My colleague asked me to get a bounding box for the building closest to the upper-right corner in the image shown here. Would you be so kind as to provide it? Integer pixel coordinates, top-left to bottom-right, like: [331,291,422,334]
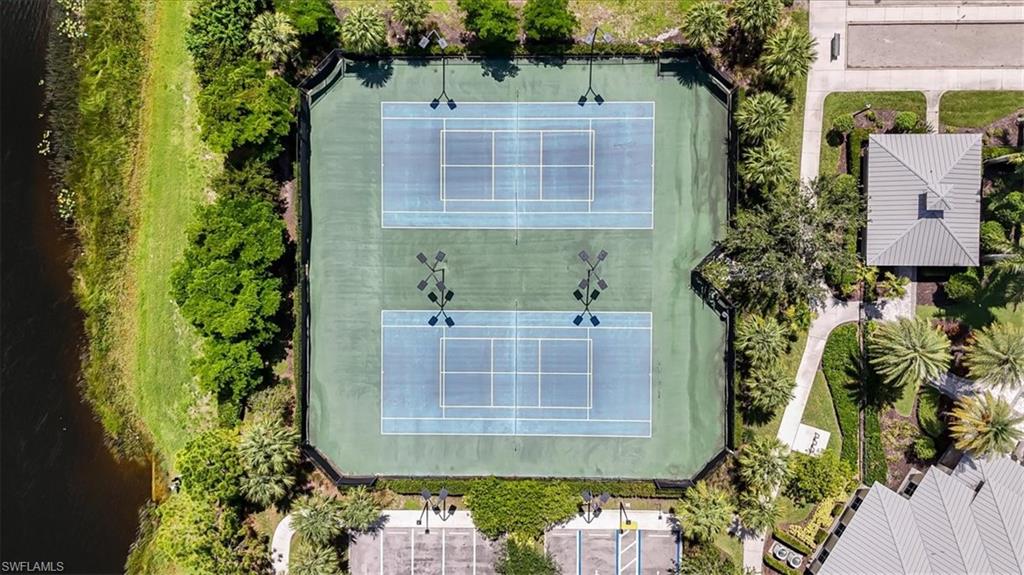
[859,133,981,267]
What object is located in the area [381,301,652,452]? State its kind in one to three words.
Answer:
tennis court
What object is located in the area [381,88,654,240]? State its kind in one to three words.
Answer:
tennis court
